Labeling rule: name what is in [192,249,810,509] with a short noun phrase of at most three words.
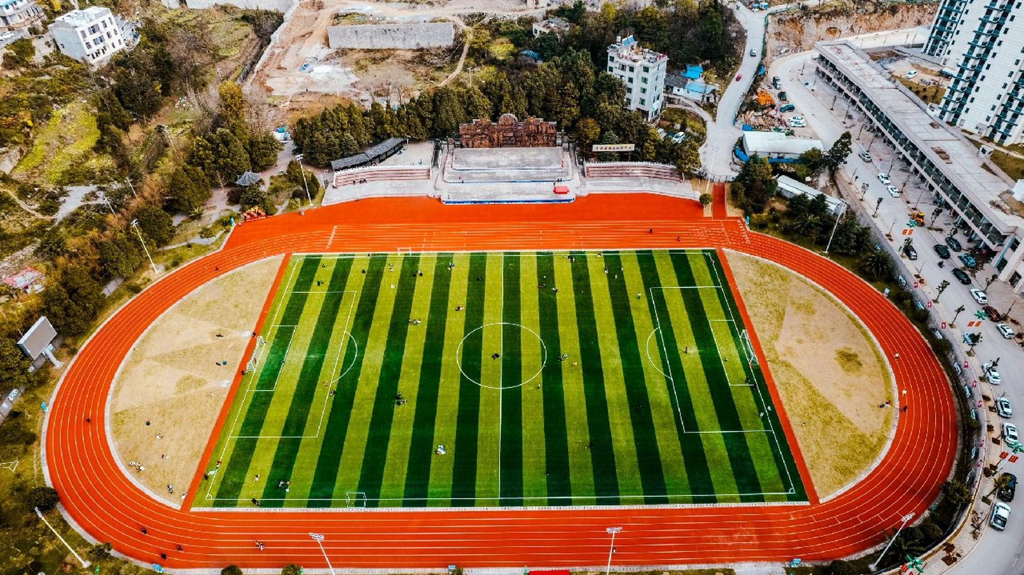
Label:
sports field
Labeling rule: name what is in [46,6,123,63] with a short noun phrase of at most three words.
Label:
house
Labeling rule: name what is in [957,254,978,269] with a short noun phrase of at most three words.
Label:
car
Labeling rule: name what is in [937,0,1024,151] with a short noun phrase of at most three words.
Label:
building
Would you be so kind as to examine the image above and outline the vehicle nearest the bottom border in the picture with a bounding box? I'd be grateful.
[992,502,1013,534]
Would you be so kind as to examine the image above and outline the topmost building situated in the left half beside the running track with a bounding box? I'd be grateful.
[328,129,405,175]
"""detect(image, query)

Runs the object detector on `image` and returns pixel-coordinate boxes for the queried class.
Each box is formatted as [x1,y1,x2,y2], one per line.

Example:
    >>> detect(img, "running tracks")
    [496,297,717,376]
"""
[41,185,963,575]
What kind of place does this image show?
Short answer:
sports ground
